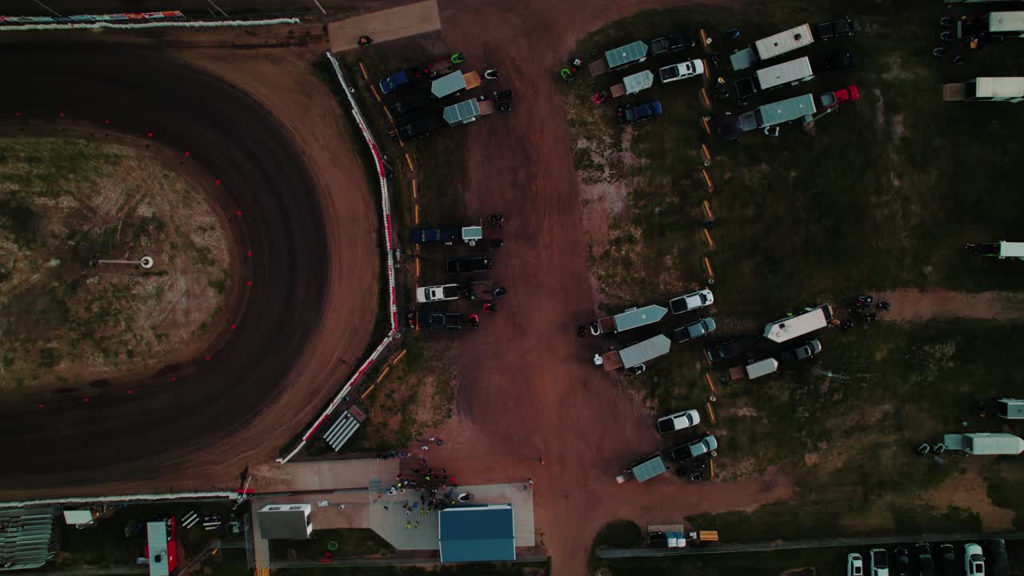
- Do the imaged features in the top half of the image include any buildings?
No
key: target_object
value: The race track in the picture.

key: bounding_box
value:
[0,24,377,503]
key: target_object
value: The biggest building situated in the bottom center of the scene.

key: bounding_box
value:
[438,504,517,563]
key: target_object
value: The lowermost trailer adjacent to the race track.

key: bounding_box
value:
[146,512,185,576]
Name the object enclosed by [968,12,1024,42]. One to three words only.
trailer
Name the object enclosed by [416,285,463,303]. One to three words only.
vehicle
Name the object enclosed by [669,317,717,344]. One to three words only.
truck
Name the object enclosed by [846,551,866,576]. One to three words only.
car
